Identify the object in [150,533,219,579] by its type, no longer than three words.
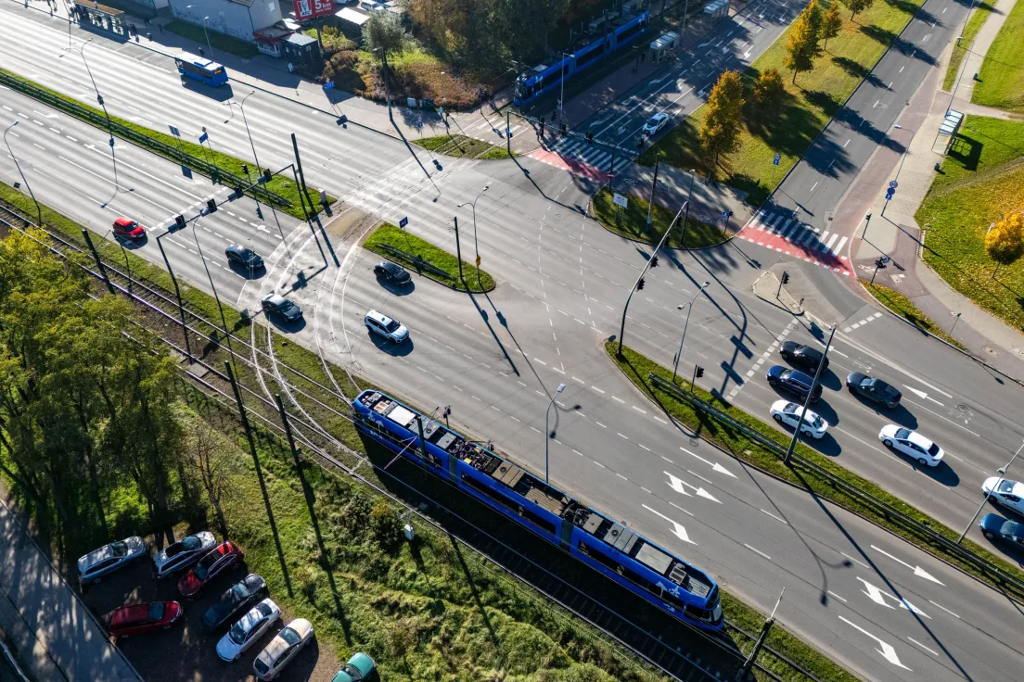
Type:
car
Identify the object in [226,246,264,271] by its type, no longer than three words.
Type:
car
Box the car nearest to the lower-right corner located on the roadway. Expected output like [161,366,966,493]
[975,512,1024,557]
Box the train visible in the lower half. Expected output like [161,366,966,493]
[358,393,726,637]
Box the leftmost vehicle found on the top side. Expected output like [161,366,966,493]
[112,218,145,241]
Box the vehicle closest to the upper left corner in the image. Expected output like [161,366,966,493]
[172,49,229,85]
